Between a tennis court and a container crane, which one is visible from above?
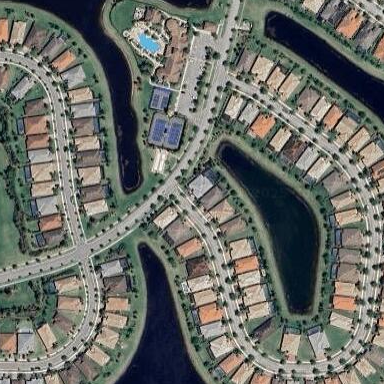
tennis court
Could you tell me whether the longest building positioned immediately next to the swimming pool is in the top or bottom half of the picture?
top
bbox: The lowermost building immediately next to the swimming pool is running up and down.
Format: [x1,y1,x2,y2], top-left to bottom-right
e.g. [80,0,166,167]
[153,17,189,84]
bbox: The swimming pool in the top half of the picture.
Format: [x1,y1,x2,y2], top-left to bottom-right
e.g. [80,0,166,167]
[127,21,168,60]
